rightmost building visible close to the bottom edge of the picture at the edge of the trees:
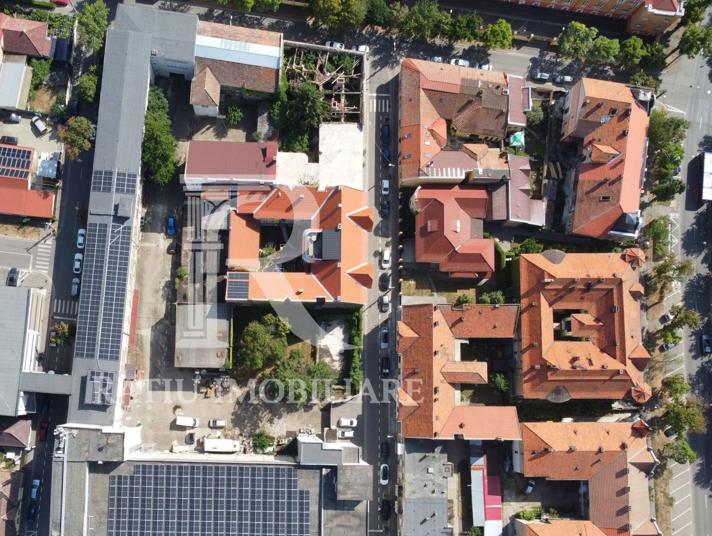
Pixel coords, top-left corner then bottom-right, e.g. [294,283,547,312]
[512,418,663,536]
